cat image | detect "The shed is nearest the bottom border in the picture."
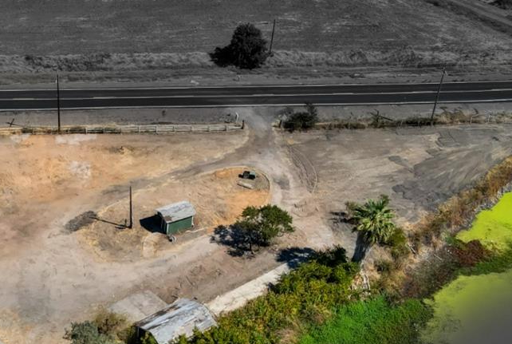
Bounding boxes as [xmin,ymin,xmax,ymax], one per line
[133,297,217,344]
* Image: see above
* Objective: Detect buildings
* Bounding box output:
[133,297,217,344]
[148,198,195,233]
